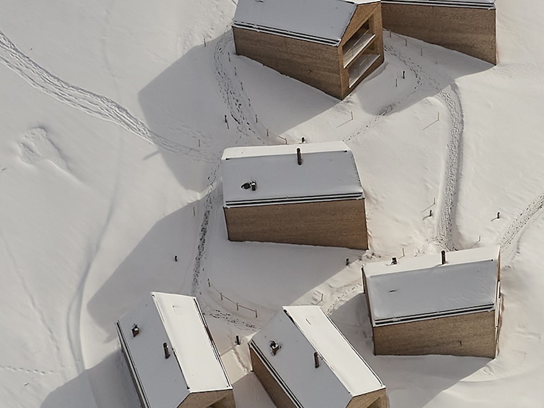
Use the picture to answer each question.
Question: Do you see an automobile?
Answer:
No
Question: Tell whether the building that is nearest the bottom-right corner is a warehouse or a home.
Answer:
home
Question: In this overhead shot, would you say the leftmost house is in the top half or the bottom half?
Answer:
bottom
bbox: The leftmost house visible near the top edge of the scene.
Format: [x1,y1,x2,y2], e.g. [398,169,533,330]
[233,0,382,98]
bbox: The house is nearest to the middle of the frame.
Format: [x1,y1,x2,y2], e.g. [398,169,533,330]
[221,140,368,248]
